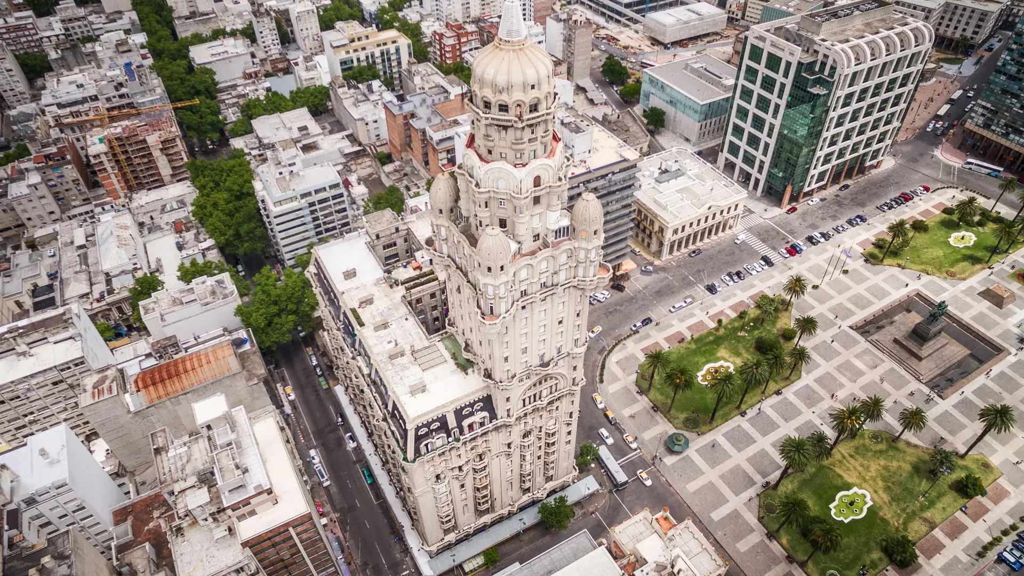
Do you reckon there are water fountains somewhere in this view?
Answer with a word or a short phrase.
Yes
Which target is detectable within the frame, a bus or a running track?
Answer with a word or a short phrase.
bus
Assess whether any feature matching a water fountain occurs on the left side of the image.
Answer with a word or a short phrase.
No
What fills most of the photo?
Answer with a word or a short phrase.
buildings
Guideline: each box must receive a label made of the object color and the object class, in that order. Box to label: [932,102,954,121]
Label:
white vehicle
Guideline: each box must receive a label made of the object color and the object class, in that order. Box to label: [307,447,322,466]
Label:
white car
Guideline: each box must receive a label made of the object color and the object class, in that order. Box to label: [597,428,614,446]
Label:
white car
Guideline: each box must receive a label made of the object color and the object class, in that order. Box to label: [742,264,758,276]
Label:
white vehicle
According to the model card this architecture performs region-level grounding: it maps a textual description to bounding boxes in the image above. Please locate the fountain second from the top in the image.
[698,358,735,384]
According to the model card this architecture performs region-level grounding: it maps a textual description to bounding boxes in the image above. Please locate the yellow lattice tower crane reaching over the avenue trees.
[67,97,199,209]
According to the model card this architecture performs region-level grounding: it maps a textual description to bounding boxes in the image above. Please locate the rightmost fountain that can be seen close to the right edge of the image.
[948,230,977,247]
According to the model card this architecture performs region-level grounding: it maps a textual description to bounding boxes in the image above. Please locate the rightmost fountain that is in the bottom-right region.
[830,486,874,522]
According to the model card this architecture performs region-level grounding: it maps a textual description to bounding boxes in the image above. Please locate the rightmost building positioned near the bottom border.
[607,485,744,576]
